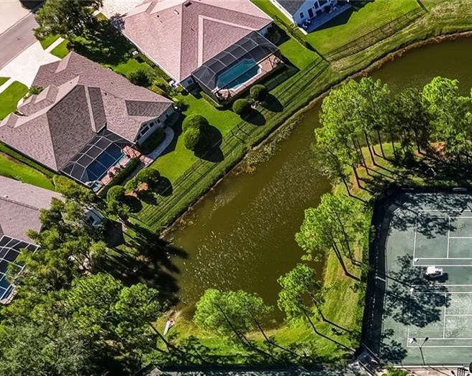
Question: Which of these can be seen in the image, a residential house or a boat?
residential house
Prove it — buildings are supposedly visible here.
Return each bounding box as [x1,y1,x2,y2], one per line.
[0,176,65,260]
[276,0,342,22]
[0,51,175,176]
[116,0,274,91]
